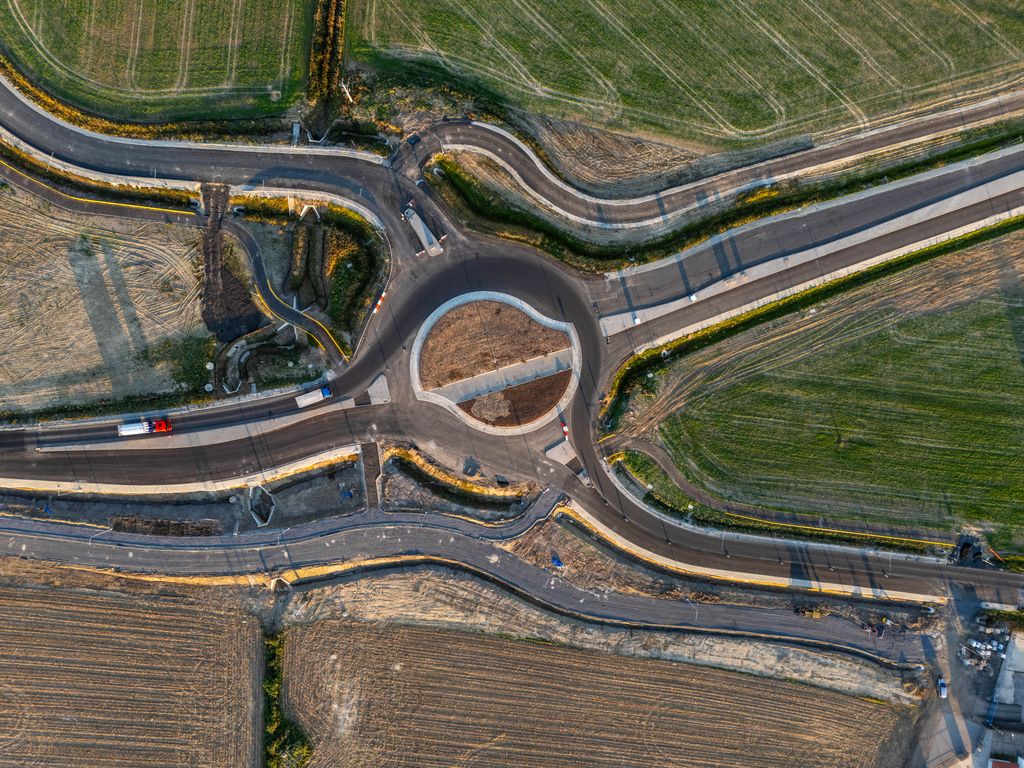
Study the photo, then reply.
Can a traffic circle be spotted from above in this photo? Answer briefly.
Yes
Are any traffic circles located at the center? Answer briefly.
Yes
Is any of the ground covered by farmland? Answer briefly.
Yes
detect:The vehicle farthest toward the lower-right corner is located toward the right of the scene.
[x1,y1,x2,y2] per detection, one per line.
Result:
[934,677,947,698]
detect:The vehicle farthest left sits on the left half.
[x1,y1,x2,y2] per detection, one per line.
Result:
[116,418,176,435]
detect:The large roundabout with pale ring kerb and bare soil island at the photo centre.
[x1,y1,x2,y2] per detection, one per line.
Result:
[340,195,635,500]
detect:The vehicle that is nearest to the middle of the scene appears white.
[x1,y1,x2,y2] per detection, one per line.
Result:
[294,385,336,408]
